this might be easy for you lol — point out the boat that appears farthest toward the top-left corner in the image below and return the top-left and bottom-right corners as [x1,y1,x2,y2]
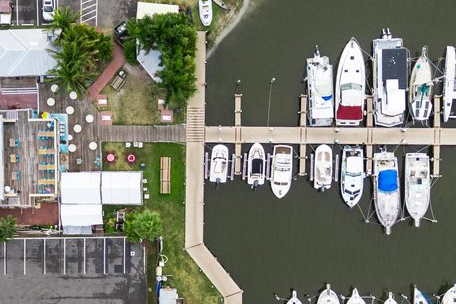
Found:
[199,0,213,25]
